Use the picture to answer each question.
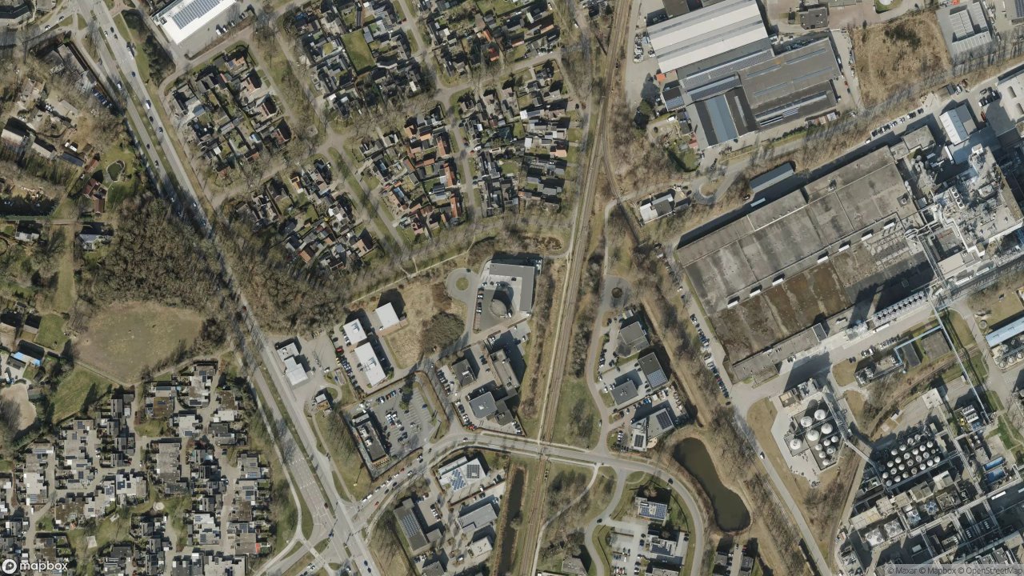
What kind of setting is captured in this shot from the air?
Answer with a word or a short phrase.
residential area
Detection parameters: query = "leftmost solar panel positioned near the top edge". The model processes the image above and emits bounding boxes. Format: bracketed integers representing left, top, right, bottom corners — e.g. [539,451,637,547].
[173,0,222,29]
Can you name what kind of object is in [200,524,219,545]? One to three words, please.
house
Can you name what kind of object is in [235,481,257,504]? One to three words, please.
house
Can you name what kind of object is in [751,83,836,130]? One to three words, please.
building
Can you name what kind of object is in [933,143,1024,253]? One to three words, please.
building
